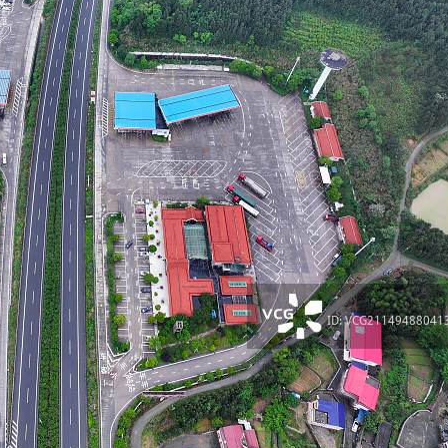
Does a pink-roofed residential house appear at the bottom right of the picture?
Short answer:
Yes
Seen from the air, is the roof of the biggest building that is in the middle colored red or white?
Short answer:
red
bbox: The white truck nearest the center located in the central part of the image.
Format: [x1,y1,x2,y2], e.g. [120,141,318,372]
[231,195,261,218]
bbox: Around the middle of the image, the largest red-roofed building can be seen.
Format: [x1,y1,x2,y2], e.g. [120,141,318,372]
[160,202,259,327]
